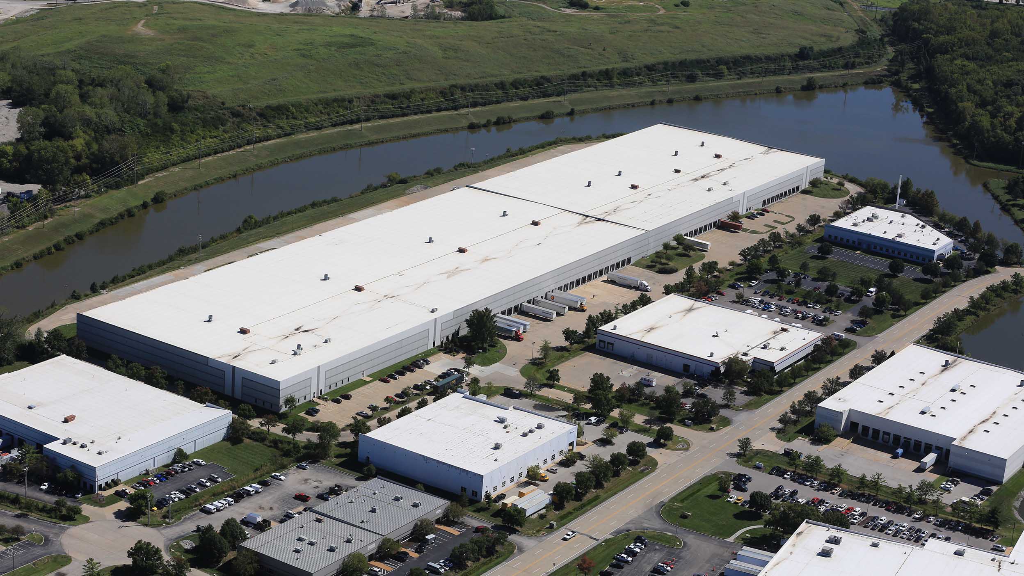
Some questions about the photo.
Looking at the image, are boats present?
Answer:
No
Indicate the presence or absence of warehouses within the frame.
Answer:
Yes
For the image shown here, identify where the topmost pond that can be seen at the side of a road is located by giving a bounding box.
[960,298,1024,370]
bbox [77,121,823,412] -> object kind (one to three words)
warehouse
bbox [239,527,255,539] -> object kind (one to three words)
vehicle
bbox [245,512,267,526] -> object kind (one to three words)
vehicle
